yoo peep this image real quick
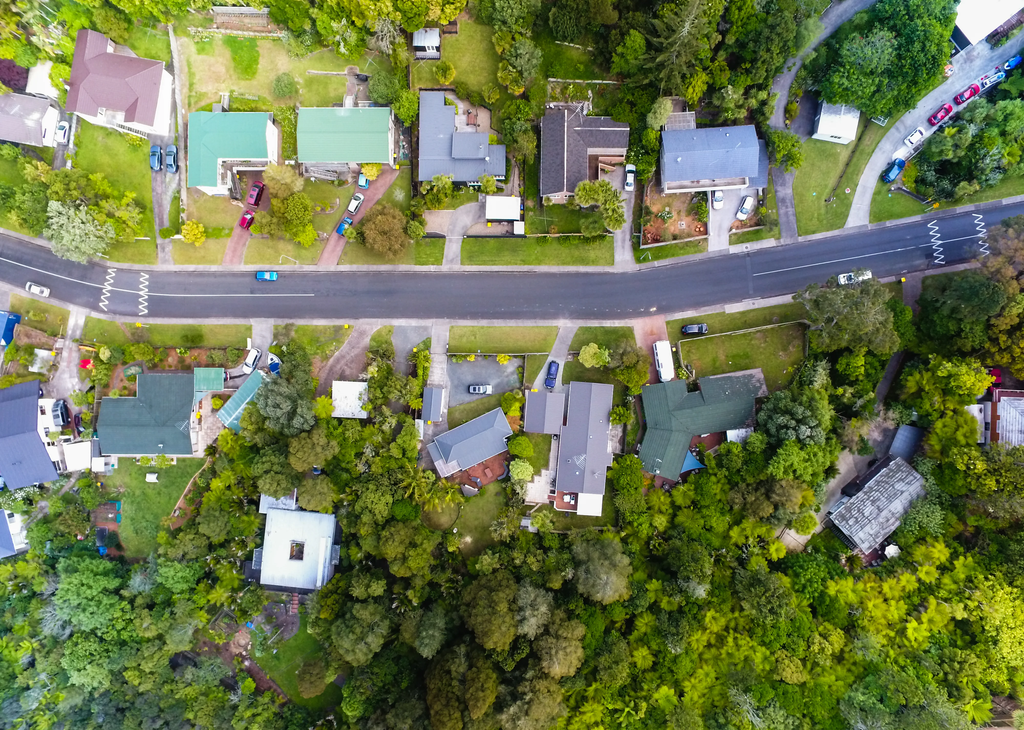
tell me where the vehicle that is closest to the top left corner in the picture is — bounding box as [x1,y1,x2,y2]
[56,121,70,144]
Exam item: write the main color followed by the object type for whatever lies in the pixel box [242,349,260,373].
white car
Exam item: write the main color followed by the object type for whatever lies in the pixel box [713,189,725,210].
white vehicle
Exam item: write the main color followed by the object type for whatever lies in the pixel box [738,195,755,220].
white car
